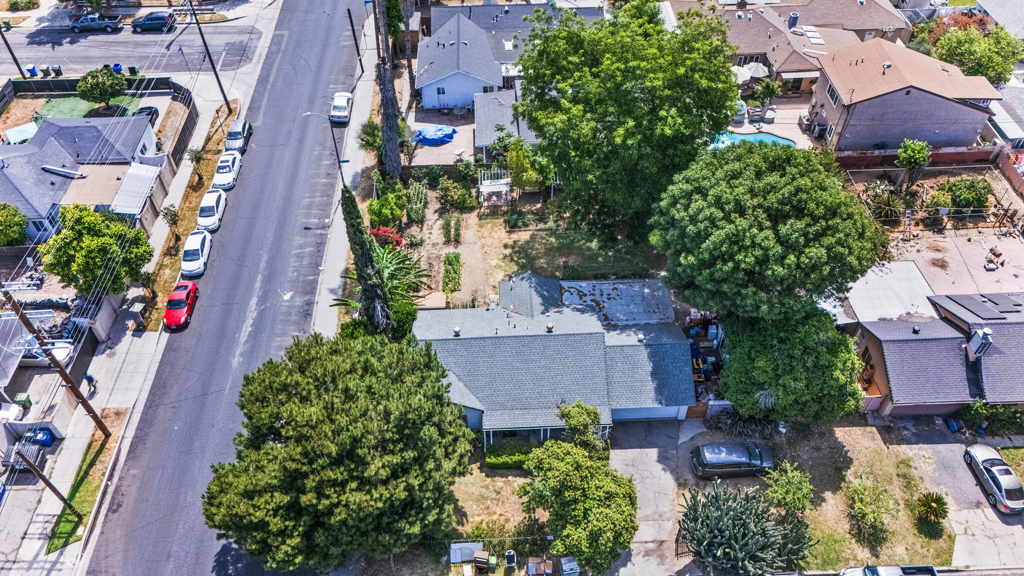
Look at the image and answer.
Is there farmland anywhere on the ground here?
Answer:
No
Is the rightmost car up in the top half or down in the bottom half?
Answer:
bottom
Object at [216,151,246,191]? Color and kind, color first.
white car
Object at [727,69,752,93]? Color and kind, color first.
white umbrella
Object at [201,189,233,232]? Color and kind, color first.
white car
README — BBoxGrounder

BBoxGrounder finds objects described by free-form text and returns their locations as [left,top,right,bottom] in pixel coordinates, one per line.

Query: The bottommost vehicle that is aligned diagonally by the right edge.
[957,447,1024,518]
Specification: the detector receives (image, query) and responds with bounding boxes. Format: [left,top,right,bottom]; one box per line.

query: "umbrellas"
[727,69,752,93]
[745,62,771,83]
